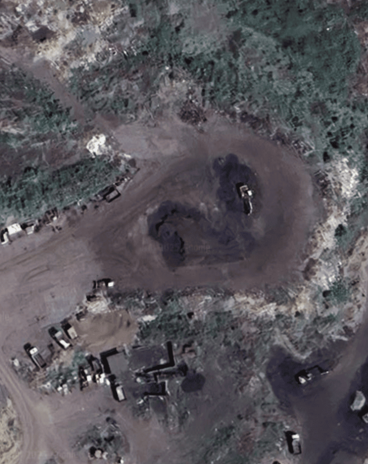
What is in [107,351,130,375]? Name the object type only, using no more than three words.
shed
